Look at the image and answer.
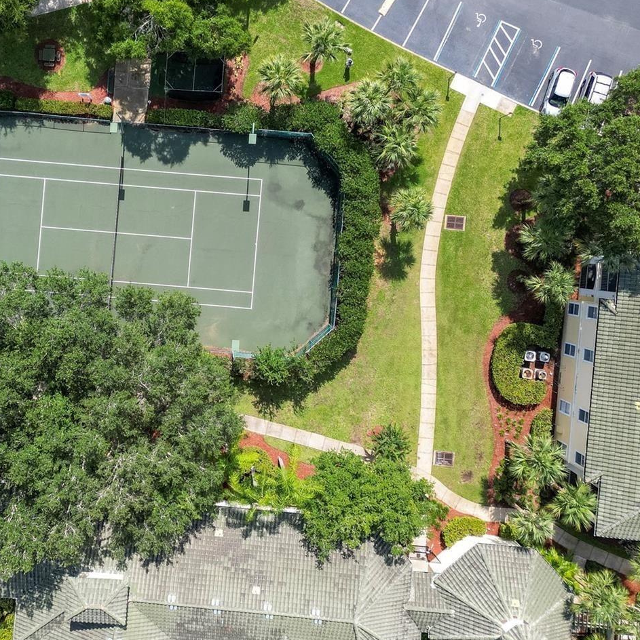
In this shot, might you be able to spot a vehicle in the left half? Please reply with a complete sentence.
No, I can find no vehicle in the left half.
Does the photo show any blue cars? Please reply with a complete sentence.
No, this view has no blue car in it.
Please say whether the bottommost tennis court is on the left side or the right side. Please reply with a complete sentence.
It is on the left.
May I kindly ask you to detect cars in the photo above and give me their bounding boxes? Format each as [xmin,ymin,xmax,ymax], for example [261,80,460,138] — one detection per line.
[580,67,627,121]
[544,65,585,118]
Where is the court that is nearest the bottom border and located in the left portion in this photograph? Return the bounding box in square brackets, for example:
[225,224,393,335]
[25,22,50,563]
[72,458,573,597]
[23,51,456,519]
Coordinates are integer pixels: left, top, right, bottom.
[0,117,336,352]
